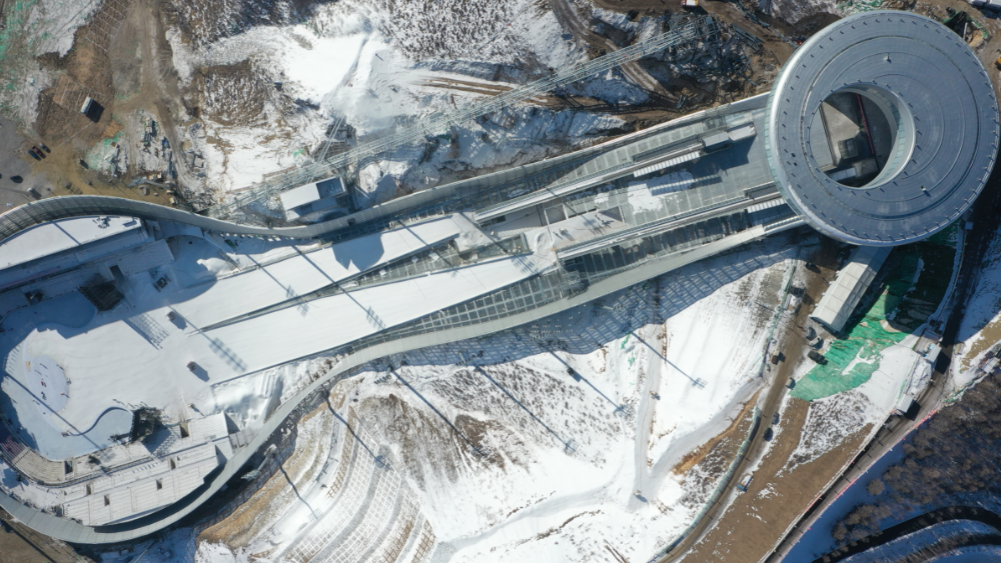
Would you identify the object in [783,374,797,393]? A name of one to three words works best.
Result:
vehicle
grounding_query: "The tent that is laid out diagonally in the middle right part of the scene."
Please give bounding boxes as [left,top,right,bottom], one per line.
[817,244,898,331]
